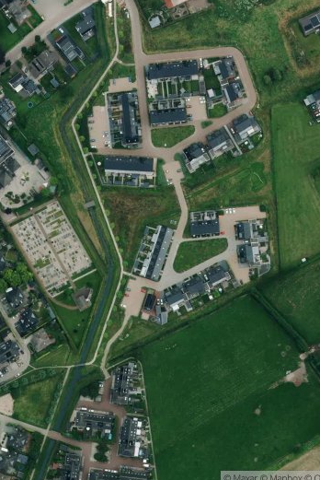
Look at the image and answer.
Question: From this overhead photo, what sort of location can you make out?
residential area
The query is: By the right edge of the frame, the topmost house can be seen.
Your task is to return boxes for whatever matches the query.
[298,10,320,33]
